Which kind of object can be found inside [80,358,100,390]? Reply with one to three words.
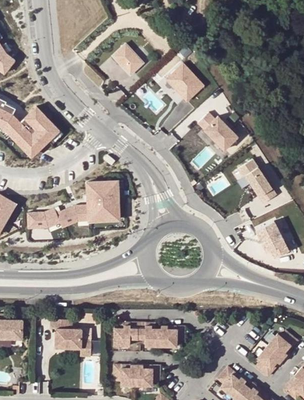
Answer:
swimming pool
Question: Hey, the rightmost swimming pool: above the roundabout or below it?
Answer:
above it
